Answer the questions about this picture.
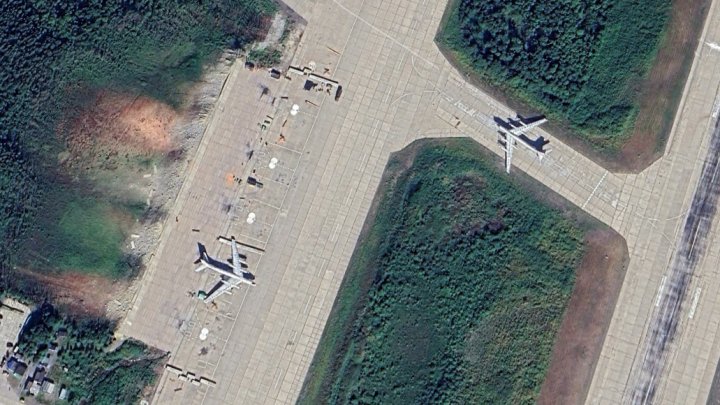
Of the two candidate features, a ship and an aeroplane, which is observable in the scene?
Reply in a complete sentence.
Looking from above, you can make out an aeroplane.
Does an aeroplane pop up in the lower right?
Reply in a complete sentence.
No, no aeroplane appears in the lower right.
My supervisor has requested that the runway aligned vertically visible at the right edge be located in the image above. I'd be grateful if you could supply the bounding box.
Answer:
[586,0,720,405]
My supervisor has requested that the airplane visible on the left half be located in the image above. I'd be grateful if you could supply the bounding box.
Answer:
[193,238,258,303]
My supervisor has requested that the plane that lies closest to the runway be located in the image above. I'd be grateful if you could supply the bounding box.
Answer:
[494,117,553,170]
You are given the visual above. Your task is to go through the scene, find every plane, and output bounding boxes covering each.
[494,117,553,170]
[193,238,258,303]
